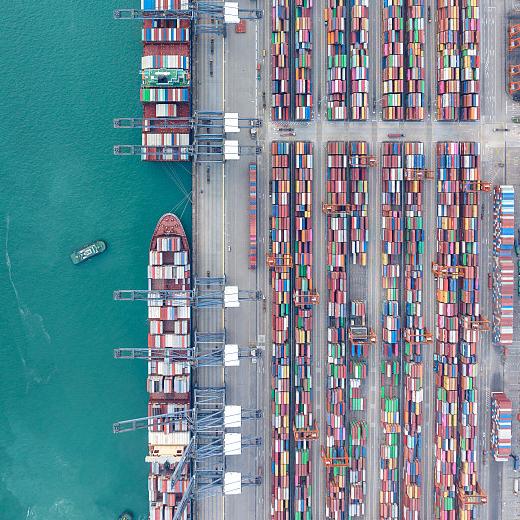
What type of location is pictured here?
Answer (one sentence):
The picture captures a port.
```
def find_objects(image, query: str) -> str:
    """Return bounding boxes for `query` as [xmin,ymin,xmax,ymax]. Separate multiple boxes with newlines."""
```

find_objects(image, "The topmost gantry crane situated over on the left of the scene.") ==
[113,2,260,41]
